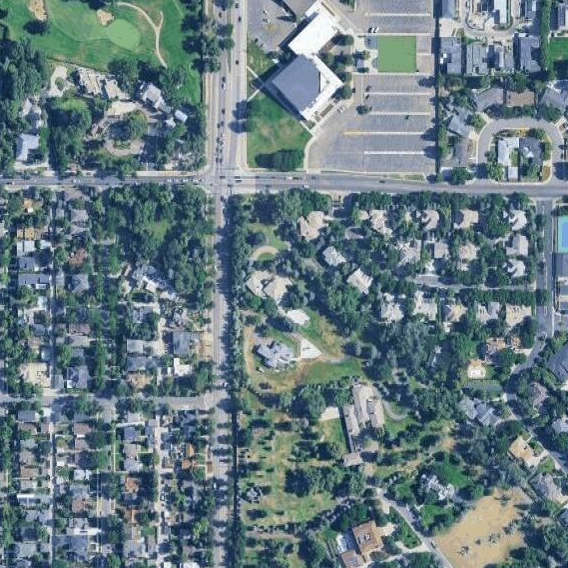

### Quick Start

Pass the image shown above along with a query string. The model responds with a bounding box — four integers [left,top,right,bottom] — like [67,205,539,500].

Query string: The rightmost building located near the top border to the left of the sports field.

[271,0,344,119]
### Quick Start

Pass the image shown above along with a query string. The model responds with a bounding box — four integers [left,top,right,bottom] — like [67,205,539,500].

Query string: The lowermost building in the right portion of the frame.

[342,521,381,568]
